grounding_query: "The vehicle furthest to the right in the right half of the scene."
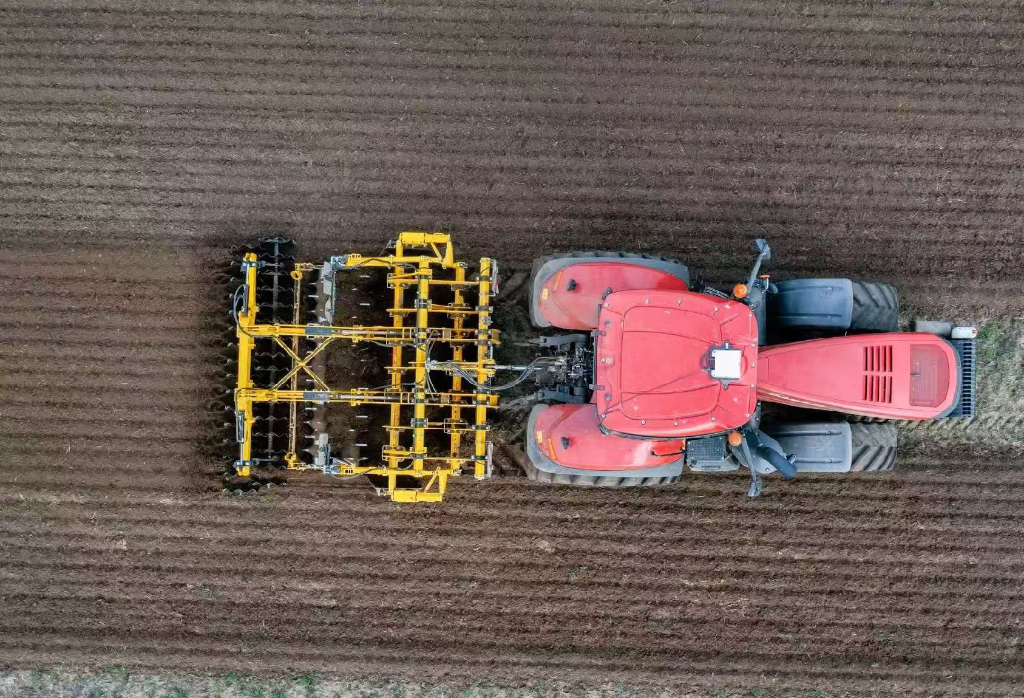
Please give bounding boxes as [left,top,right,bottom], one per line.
[496,239,976,496]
